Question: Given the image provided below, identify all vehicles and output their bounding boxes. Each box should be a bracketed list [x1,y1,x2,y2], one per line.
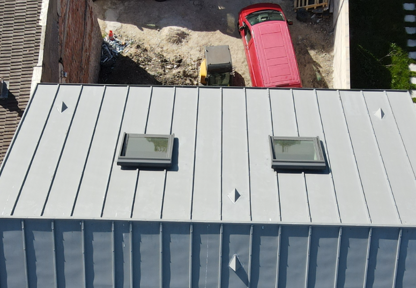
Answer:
[200,45,235,84]
[235,4,300,86]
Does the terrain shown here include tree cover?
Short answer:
No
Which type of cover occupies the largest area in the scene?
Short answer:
buildings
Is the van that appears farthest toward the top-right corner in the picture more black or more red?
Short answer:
red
